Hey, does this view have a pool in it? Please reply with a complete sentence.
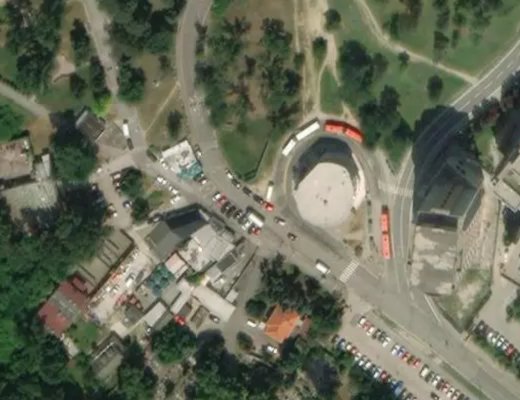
No, no pool is visible in the view.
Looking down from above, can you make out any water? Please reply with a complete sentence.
No, there is no water in the image.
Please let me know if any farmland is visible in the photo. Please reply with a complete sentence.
No, no farmland is visible.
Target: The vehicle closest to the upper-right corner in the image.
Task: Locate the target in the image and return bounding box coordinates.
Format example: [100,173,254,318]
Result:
[324,122,364,144]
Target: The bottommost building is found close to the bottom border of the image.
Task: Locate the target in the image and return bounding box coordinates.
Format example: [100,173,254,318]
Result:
[89,332,122,385]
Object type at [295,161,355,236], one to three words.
building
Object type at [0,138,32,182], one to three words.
house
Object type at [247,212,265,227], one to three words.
vehicle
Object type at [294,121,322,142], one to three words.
bus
